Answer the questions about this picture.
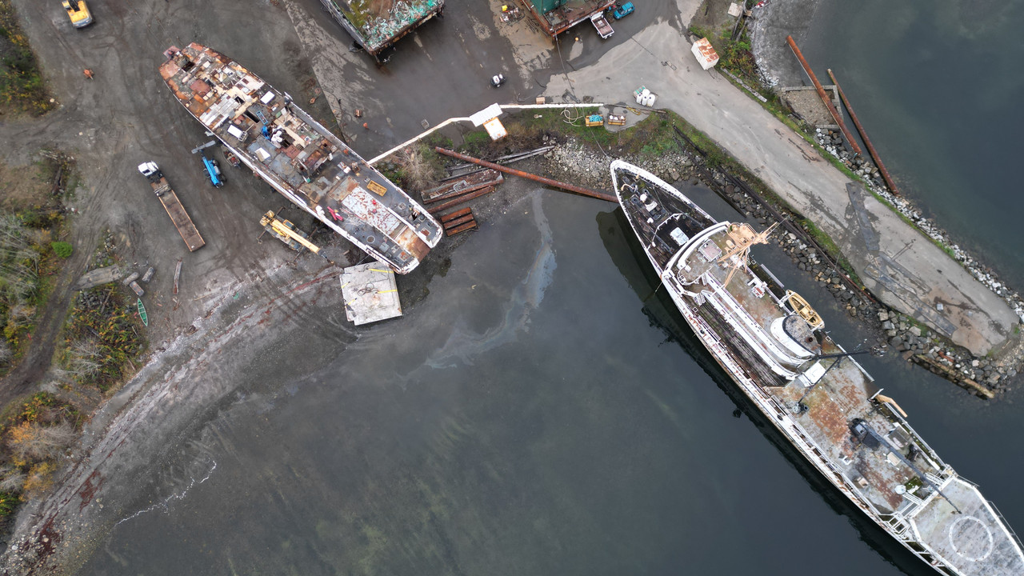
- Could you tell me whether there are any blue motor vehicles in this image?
Yes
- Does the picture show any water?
Yes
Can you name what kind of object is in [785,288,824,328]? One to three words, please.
boat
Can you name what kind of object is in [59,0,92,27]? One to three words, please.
work vehicle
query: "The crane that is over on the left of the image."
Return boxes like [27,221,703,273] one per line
[258,207,331,263]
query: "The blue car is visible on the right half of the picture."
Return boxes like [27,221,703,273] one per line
[613,1,635,20]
